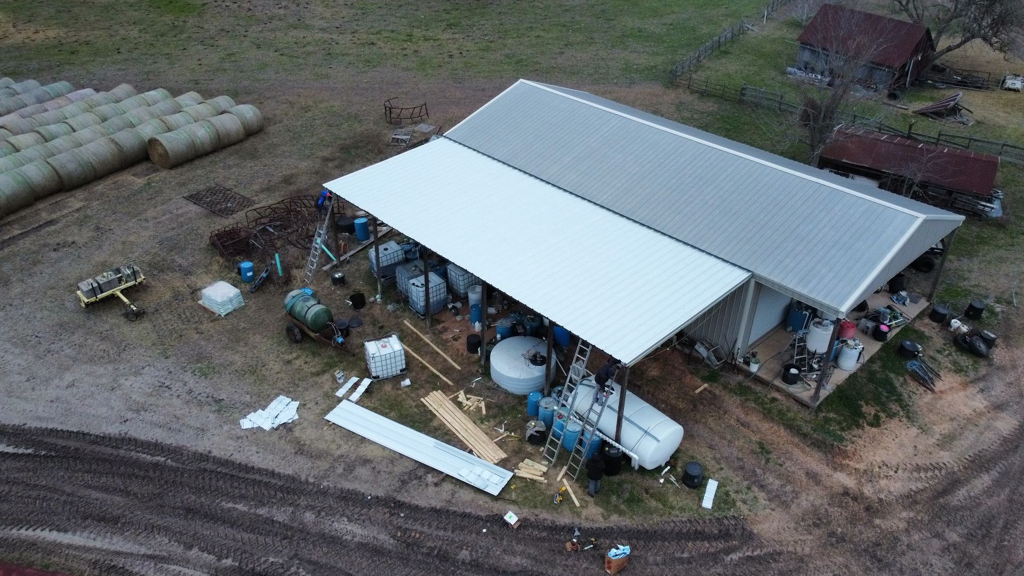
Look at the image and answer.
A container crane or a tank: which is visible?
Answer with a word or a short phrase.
tank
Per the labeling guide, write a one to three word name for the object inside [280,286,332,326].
storage tank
